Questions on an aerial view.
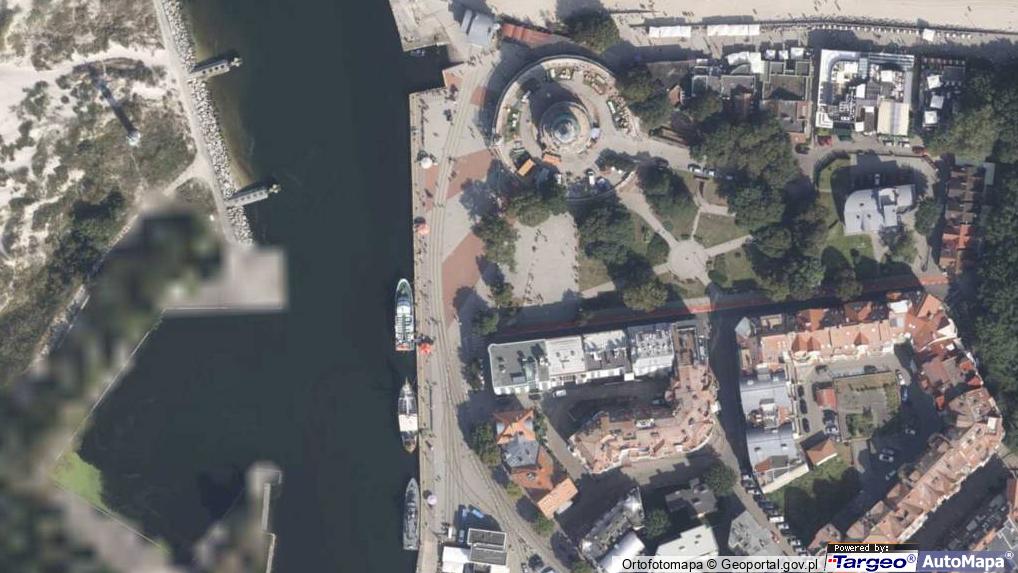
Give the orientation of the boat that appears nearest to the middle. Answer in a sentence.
Seen from above, the boat that appears nearest to the middle lies up and down.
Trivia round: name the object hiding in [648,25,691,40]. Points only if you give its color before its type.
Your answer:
white tent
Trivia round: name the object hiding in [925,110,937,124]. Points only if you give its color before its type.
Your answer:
white umbrella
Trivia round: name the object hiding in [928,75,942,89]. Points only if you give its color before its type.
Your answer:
white umbrella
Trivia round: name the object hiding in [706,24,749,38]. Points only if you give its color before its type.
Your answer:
white tent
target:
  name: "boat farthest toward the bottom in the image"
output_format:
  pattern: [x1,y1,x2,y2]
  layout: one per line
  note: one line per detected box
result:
[404,478,424,550]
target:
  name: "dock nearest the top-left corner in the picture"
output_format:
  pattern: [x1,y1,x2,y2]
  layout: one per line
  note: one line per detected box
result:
[189,63,232,82]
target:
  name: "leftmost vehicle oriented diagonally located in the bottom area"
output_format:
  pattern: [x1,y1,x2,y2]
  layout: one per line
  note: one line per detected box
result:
[470,507,486,520]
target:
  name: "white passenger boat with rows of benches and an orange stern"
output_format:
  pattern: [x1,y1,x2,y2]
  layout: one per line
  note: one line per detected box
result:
[395,279,418,352]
